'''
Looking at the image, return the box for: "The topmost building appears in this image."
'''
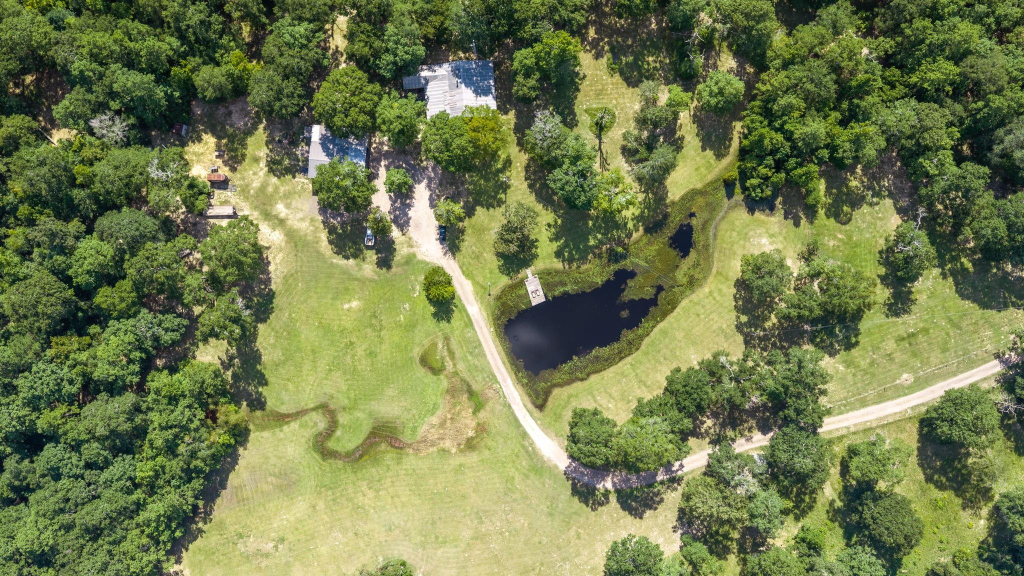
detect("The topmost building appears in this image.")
[404,60,497,120]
